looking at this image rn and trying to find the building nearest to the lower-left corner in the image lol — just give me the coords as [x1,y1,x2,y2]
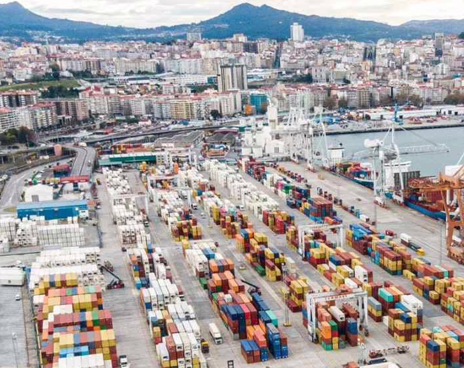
[0,268,26,284]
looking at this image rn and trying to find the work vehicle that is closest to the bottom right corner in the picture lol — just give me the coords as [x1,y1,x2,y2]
[364,343,407,362]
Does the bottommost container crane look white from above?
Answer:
Yes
